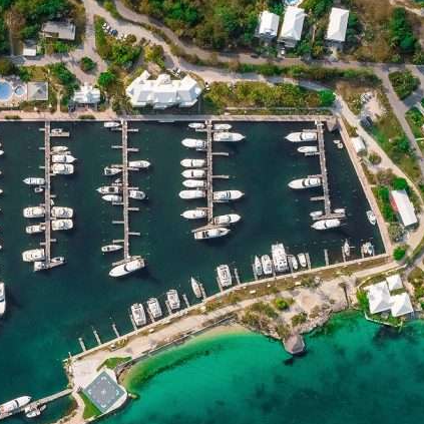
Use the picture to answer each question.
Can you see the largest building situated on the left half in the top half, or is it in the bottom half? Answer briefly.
top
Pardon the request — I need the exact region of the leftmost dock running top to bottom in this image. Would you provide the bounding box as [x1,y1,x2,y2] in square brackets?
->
[35,122,71,269]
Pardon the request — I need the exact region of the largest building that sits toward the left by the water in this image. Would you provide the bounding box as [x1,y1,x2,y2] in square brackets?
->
[126,71,202,111]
